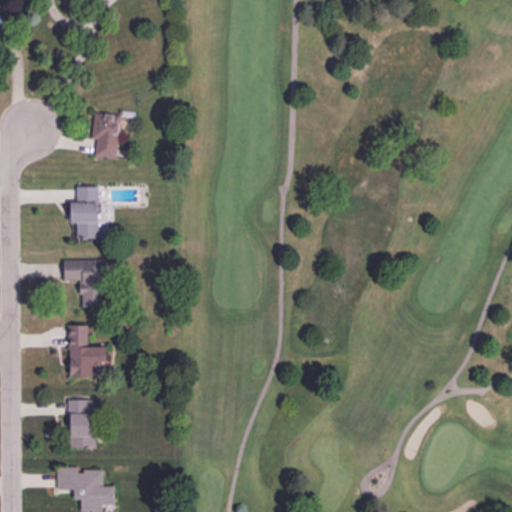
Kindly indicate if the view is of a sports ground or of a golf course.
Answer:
golf course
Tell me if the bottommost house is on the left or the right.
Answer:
left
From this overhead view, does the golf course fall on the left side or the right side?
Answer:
right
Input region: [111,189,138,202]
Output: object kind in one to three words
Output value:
swimming pool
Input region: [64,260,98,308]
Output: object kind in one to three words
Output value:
house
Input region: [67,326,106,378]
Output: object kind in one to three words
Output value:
house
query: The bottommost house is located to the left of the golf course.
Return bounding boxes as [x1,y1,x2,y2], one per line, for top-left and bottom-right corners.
[56,468,115,512]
